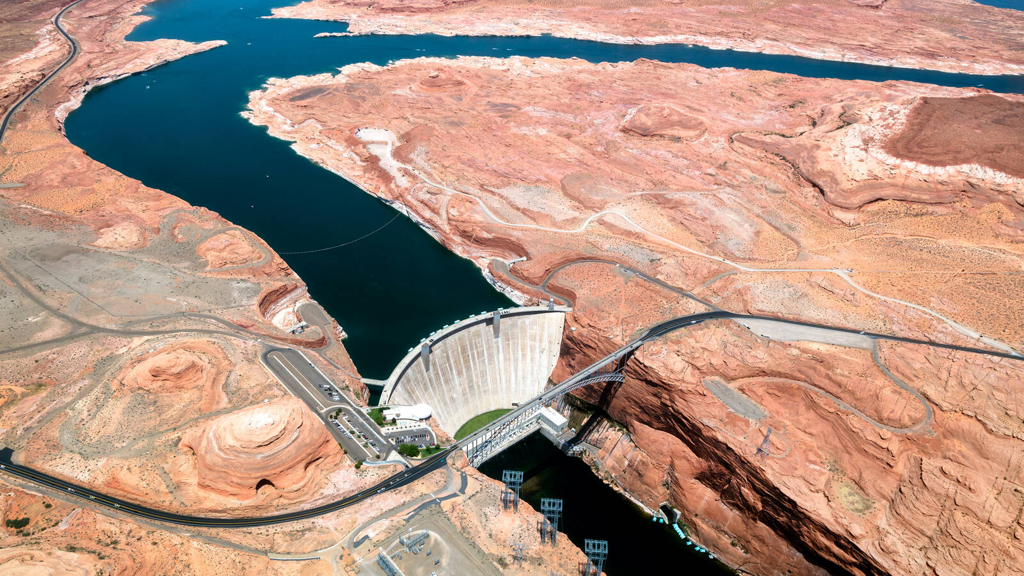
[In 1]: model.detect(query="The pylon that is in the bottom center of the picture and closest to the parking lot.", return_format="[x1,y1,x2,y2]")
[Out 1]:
[500,467,524,512]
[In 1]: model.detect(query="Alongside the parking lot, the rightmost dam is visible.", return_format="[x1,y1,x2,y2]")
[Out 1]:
[378,305,571,441]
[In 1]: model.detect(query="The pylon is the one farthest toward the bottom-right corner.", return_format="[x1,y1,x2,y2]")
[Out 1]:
[754,433,771,462]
